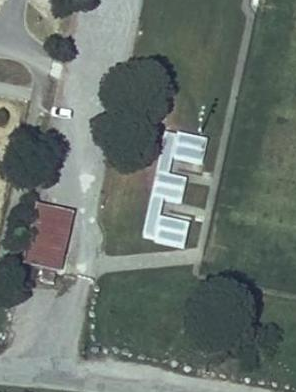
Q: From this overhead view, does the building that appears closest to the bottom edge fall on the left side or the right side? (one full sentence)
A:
It is on the left.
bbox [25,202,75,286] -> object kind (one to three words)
building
